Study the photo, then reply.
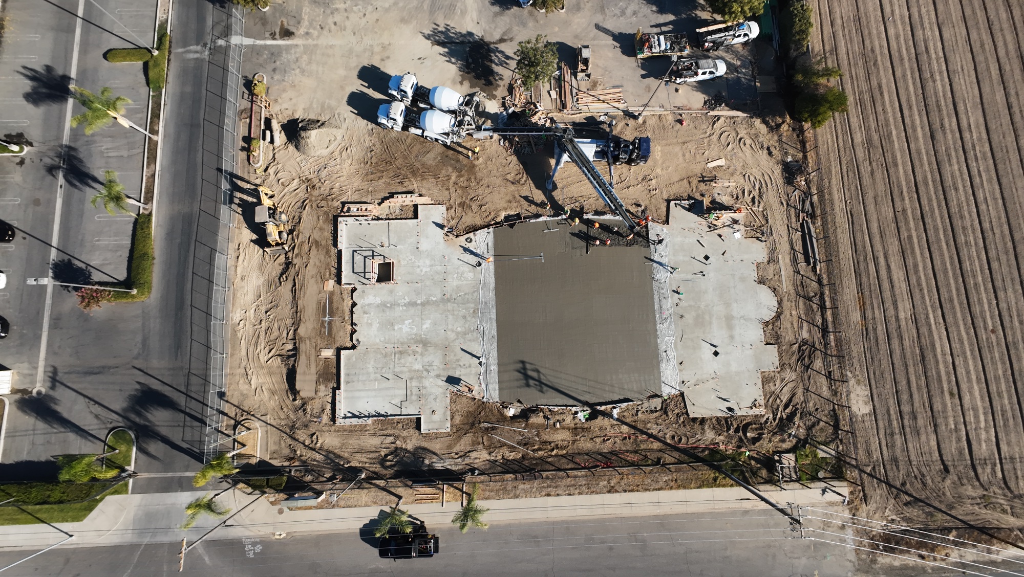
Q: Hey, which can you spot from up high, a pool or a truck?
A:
truck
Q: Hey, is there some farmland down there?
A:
Yes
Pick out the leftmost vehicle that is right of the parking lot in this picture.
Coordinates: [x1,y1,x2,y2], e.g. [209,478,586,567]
[256,188,288,259]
